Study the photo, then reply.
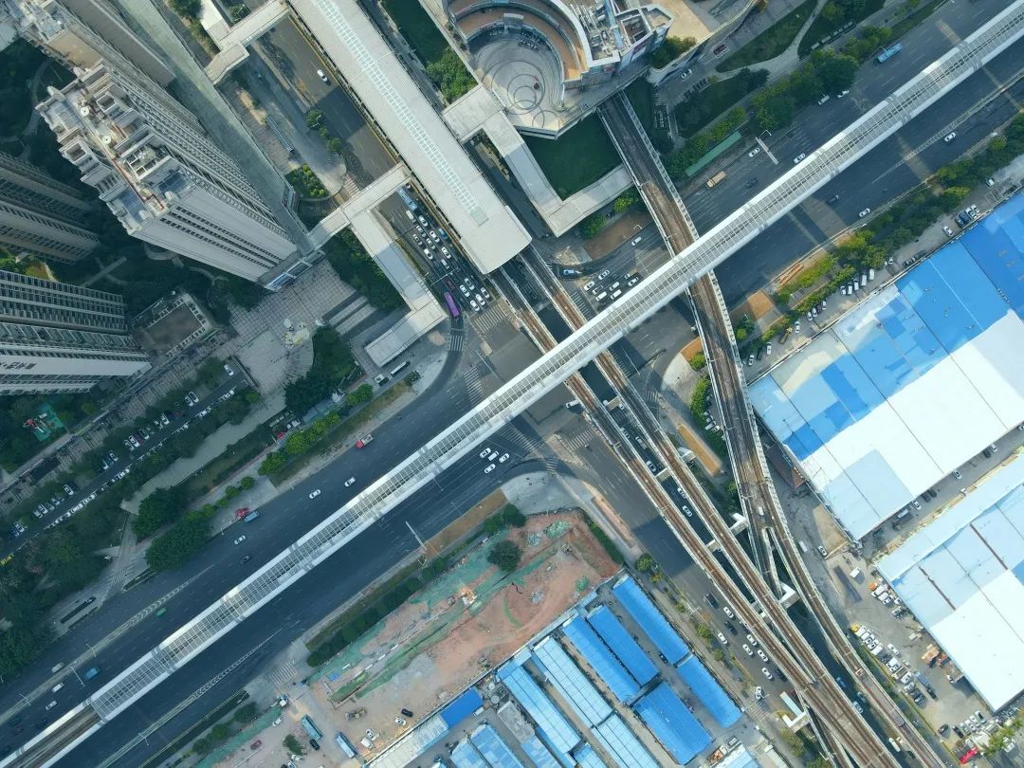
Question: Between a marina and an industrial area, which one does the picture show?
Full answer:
What you see here is an industrial area.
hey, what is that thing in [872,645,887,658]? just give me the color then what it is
white vehicle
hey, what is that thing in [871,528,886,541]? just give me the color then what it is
blue vehicle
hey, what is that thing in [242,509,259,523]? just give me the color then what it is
blue vehicle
